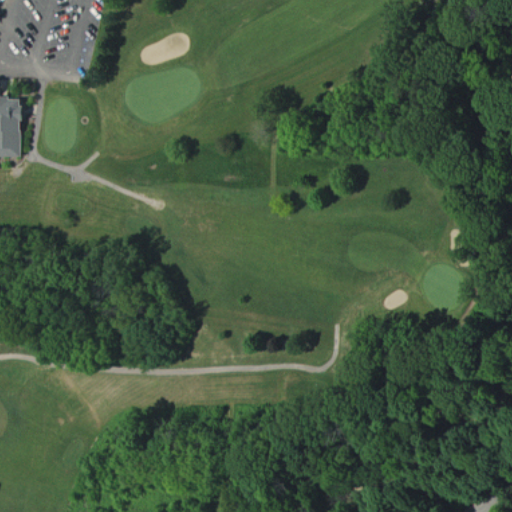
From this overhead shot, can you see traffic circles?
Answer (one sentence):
No, there appears to be no traffic circle in this shot.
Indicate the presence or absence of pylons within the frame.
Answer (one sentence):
No, this view has no pylon in it.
